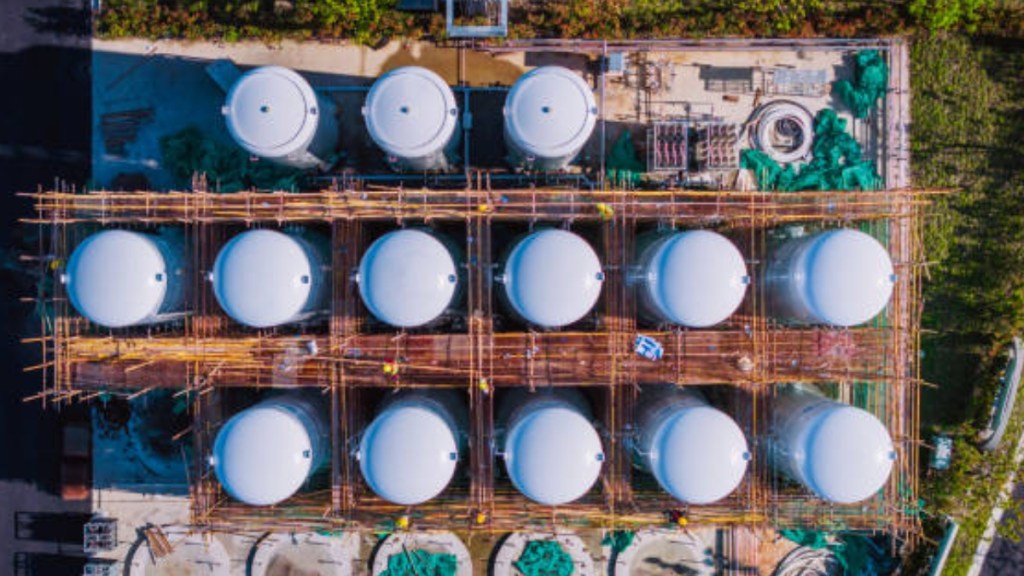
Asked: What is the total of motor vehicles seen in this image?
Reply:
1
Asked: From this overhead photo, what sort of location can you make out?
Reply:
industrial area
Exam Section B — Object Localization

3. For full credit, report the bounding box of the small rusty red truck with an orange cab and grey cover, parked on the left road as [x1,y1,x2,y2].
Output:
[59,428,89,503]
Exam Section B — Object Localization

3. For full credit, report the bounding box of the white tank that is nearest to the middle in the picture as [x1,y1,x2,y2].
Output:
[493,229,602,328]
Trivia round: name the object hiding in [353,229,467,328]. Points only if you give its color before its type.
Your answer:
white storage tank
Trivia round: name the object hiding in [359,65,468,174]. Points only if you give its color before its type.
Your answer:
white storage tank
